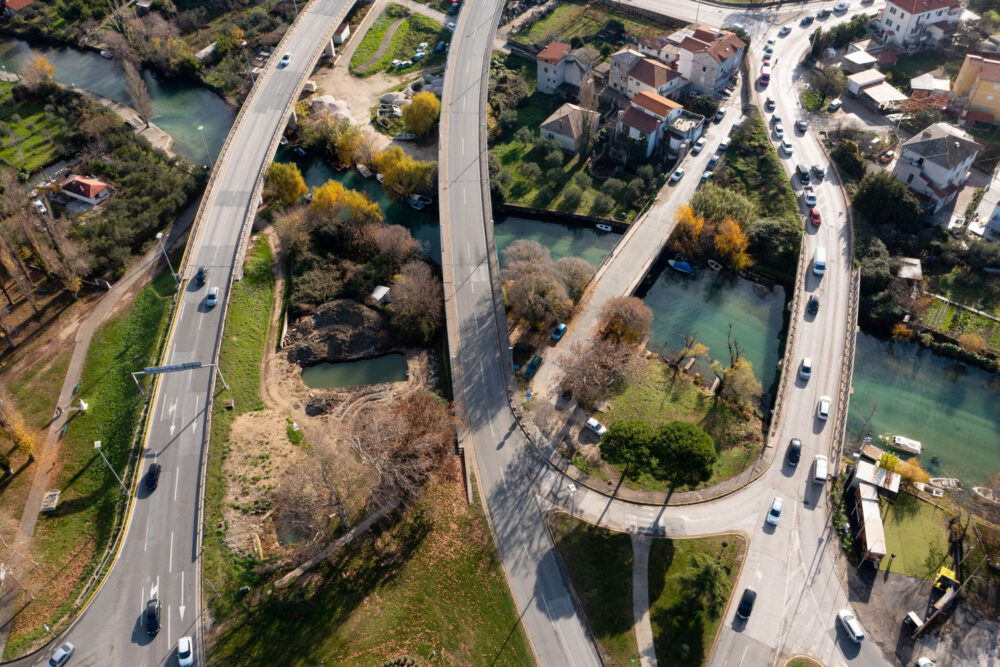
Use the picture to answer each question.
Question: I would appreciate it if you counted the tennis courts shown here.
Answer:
0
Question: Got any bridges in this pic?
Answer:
Yes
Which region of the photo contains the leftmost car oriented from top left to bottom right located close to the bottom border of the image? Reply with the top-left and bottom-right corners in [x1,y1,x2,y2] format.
[836,606,869,644]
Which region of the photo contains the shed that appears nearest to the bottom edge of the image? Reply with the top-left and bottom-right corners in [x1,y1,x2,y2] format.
[846,483,888,566]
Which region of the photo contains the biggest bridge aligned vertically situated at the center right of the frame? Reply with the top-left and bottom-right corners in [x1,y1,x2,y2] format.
[769,234,860,475]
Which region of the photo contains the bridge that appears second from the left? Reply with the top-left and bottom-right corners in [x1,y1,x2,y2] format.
[437,0,521,430]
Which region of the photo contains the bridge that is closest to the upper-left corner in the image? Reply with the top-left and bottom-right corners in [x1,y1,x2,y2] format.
[165,0,360,329]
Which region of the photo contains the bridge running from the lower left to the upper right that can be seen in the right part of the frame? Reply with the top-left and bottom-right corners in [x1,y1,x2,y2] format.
[586,202,687,305]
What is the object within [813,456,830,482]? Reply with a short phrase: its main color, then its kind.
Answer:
white vehicle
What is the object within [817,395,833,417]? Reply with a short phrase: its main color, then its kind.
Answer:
white car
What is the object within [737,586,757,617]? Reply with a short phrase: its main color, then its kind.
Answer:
black car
